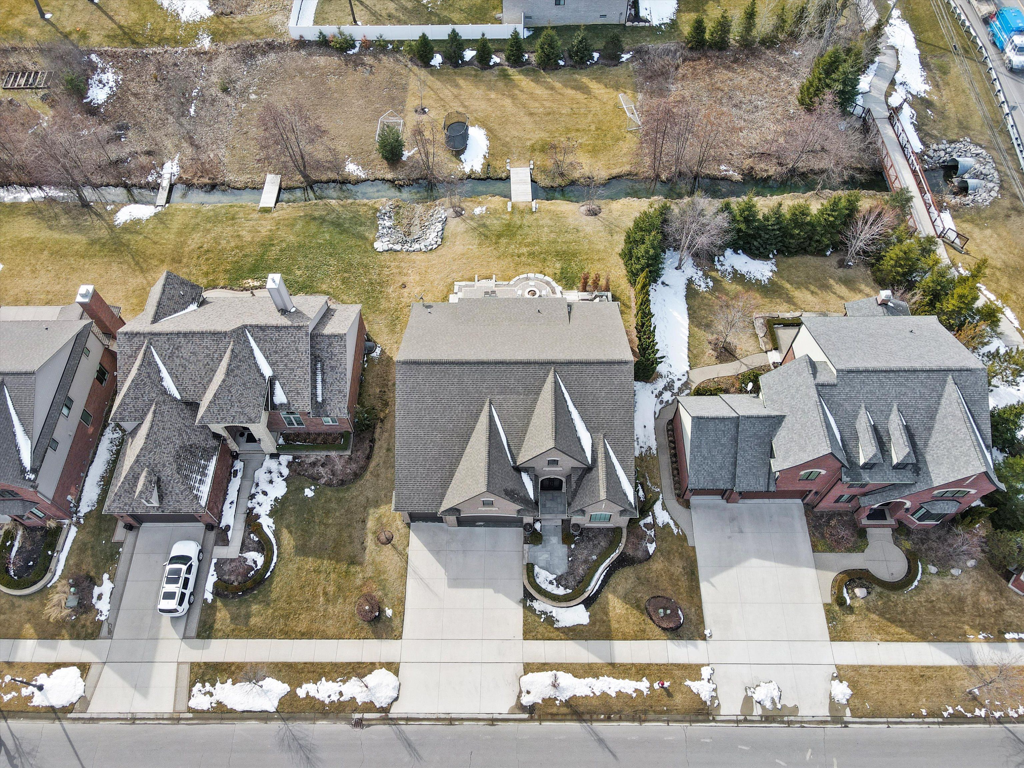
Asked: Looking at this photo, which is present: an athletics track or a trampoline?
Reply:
trampoline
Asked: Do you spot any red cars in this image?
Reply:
No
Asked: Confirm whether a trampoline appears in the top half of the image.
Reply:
Yes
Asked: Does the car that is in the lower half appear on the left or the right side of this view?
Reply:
left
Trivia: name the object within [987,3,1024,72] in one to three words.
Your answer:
truck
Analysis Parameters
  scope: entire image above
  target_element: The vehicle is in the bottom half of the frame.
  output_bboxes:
[154,543,201,618]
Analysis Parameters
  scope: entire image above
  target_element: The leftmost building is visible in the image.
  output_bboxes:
[0,286,129,523]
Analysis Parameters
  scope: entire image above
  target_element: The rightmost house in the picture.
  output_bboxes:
[673,291,1006,530]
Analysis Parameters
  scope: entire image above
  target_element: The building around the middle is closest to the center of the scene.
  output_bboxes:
[392,298,639,540]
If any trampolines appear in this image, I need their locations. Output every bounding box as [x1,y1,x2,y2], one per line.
[443,110,472,156]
